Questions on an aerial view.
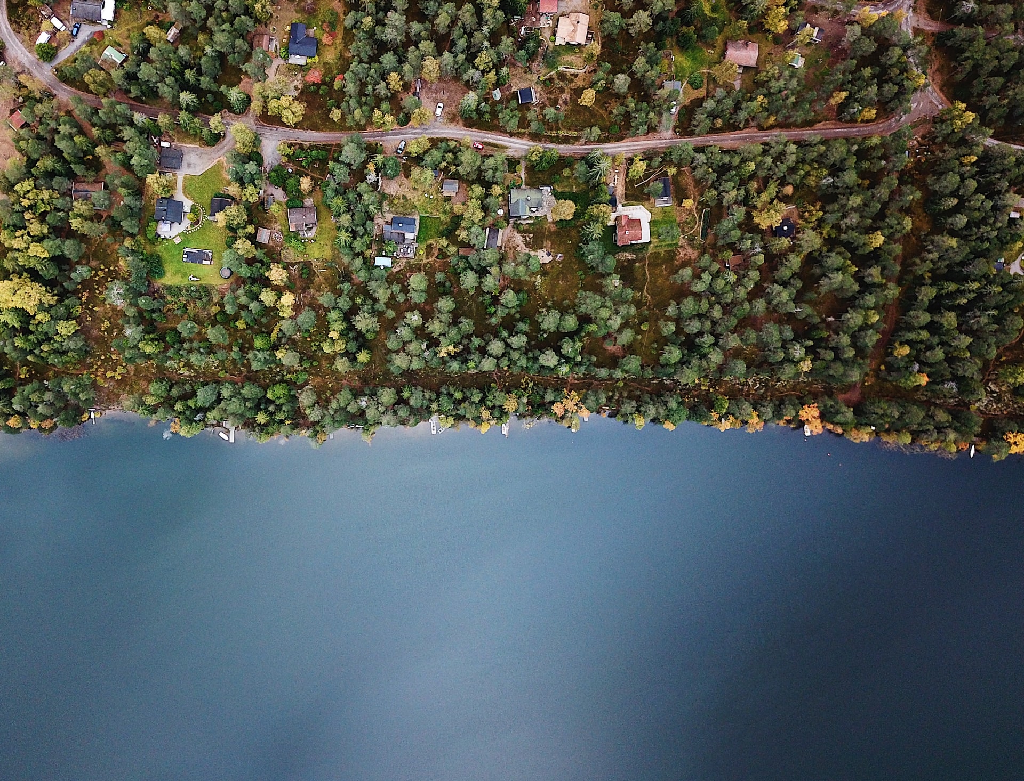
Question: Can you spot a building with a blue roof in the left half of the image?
Yes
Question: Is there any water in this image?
Yes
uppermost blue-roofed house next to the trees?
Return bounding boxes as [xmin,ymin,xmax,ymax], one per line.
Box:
[288,21,320,70]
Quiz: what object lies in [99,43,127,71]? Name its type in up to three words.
building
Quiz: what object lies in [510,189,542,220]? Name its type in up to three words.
house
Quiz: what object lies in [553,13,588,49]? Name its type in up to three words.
house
